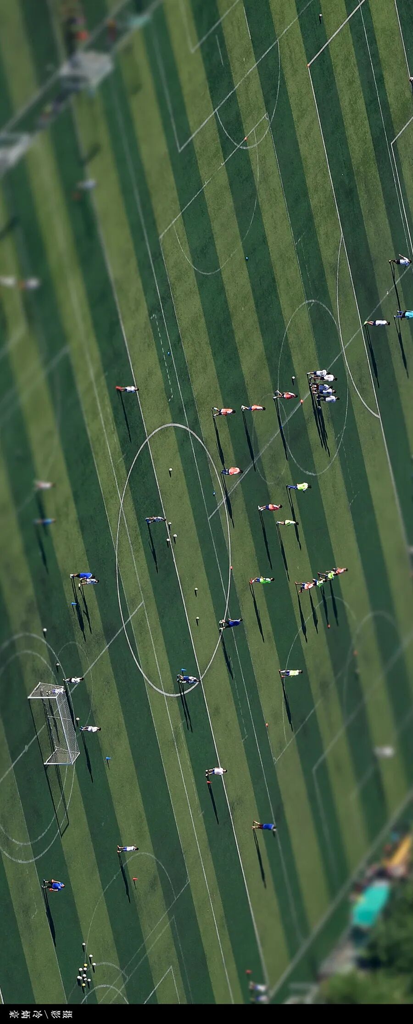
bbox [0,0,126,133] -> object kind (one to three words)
soccer field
